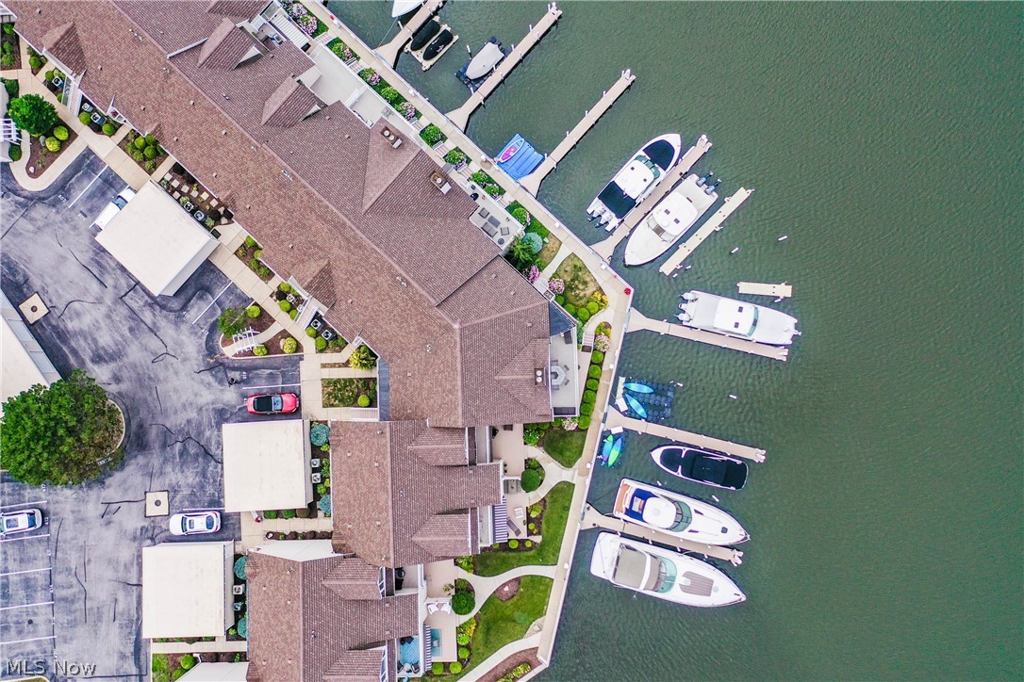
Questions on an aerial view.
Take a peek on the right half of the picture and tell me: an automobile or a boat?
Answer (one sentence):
You can see a boat on the right half of the picture.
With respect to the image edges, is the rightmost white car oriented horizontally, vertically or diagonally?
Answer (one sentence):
In this picture, the rightmost white car is oriented horizontally.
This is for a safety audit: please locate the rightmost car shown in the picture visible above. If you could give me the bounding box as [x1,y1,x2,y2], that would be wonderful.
[247,391,300,417]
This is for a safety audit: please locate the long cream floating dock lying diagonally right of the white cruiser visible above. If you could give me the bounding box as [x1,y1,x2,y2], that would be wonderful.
[658,187,753,276]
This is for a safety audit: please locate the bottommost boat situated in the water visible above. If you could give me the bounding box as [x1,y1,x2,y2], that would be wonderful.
[587,533,748,606]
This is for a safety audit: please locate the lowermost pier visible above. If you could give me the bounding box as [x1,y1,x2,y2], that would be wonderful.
[580,502,739,563]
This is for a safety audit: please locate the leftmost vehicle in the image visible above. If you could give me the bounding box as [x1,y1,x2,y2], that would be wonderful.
[0,507,49,538]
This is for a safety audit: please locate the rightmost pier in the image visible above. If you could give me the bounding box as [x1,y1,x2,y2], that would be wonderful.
[735,281,792,299]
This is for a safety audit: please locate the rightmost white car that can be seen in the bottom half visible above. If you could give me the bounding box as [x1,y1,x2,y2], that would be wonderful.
[170,510,223,537]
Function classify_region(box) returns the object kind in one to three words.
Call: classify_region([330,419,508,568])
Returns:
house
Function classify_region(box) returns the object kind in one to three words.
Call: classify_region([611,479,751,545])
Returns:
boat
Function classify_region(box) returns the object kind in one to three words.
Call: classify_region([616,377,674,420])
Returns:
pier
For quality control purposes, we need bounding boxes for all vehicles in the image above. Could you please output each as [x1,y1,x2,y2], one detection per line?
[170,510,223,537]
[93,183,142,231]
[0,507,49,538]
[247,391,300,417]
